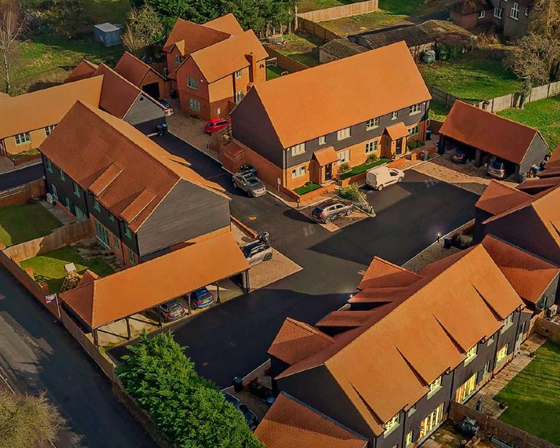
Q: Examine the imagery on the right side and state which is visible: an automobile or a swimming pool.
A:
automobile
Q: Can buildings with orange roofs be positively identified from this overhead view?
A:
Yes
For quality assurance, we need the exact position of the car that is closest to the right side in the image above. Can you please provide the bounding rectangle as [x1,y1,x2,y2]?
[484,155,511,180]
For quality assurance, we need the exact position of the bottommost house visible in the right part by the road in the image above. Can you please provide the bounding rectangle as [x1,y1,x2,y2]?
[247,243,531,448]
